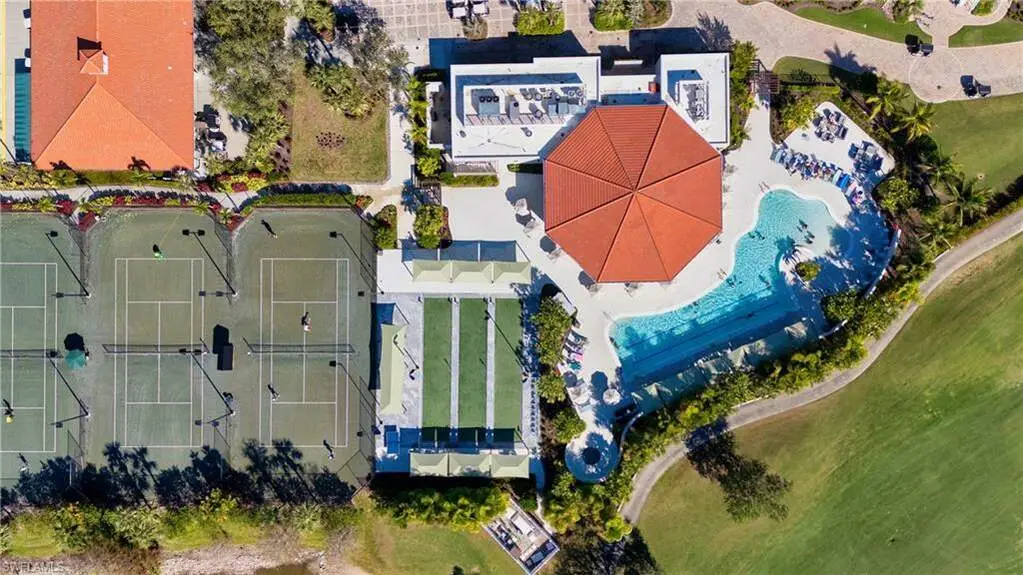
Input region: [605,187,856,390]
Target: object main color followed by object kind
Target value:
blue swimming pool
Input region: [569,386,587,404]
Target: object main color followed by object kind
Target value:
white umbrella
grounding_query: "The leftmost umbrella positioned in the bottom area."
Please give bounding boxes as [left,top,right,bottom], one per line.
[66,347,86,367]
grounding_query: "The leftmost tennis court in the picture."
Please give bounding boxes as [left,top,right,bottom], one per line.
[0,212,82,504]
